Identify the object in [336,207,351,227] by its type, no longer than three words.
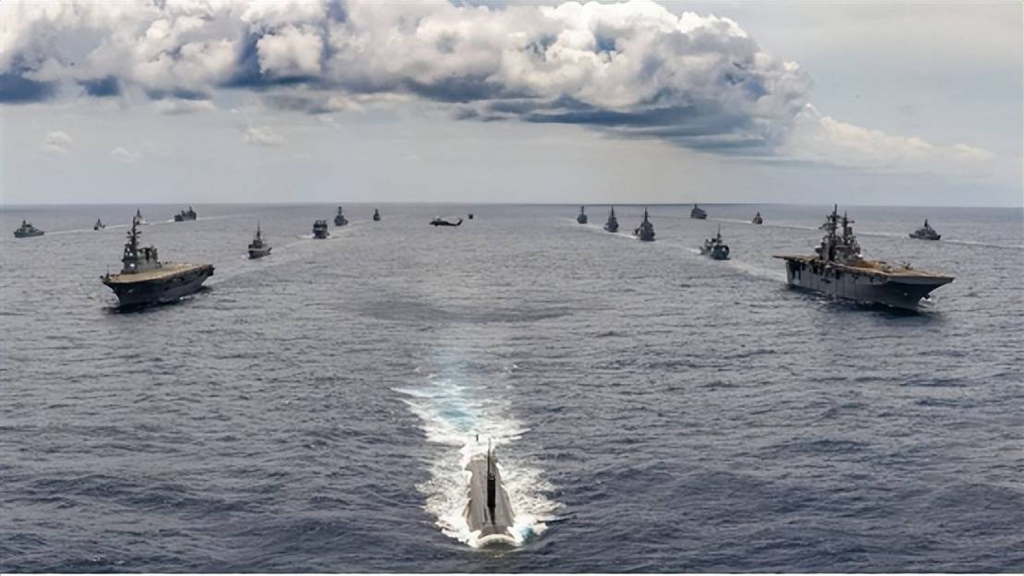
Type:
ship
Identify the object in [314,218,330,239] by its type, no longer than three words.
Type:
ship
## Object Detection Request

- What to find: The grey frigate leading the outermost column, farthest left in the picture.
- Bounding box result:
[12,220,48,238]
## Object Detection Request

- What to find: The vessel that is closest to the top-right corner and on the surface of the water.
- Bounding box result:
[905,219,941,241]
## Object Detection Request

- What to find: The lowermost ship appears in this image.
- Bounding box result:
[464,433,516,530]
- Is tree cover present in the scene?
No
